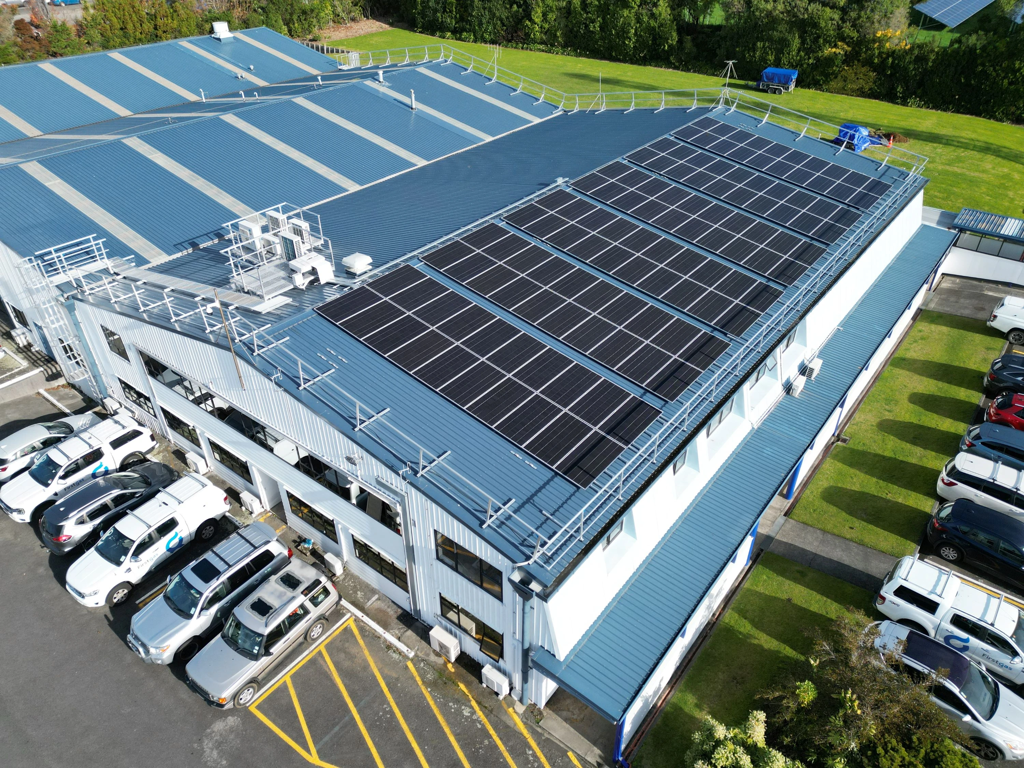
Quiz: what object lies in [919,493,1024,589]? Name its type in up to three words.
car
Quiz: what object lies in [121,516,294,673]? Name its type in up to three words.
car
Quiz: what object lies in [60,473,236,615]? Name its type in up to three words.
truck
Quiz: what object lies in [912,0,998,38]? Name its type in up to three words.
solar array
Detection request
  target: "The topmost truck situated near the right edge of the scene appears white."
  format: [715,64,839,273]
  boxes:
[986,293,1024,343]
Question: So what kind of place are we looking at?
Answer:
industrial area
